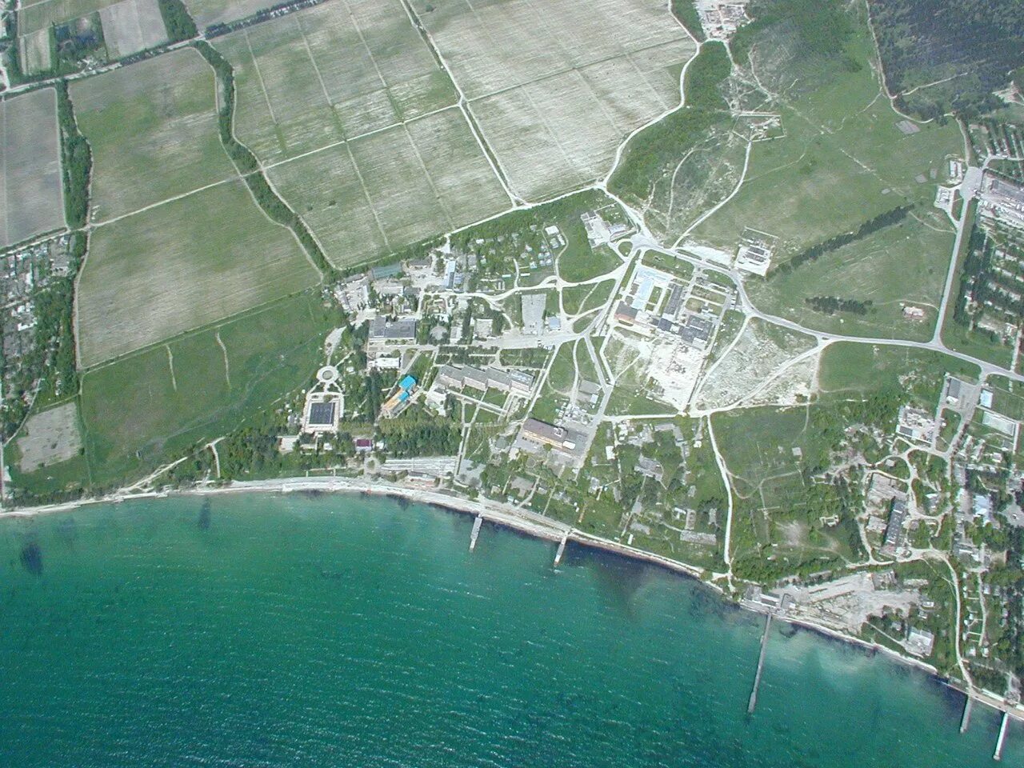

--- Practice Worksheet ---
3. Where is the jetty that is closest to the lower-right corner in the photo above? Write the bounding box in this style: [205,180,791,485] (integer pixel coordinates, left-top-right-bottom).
[992,712,1009,761]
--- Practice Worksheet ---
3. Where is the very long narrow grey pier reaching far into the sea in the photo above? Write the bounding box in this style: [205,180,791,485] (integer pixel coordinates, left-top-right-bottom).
[747,612,772,713]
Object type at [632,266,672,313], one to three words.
building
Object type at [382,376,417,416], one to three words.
house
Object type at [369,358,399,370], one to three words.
building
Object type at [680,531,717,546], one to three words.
barn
